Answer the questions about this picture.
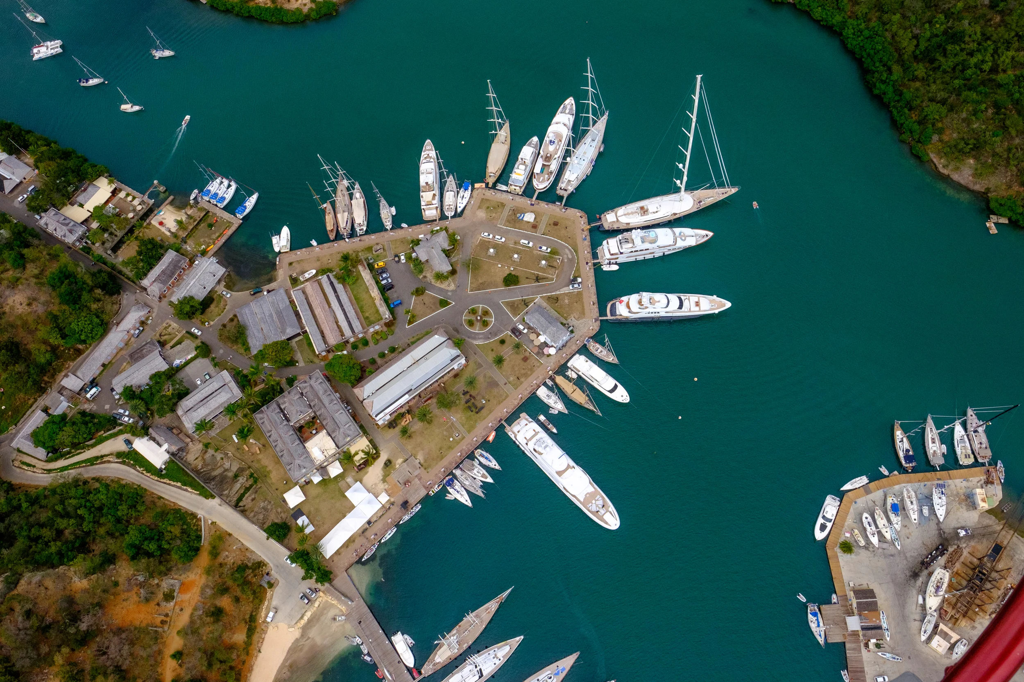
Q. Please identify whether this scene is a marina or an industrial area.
marina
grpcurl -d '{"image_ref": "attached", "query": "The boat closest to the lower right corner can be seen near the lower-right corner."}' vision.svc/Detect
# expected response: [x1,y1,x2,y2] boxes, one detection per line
[948,638,969,660]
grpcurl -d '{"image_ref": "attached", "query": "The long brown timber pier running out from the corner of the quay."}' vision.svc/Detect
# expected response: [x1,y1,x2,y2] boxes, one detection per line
[332,572,409,682]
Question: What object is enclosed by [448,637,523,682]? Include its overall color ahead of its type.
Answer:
white boat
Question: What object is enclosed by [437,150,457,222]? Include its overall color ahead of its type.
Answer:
white boat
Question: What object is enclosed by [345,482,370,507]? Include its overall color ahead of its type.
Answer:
white tent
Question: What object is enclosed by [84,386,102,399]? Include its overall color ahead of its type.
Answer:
white vehicle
